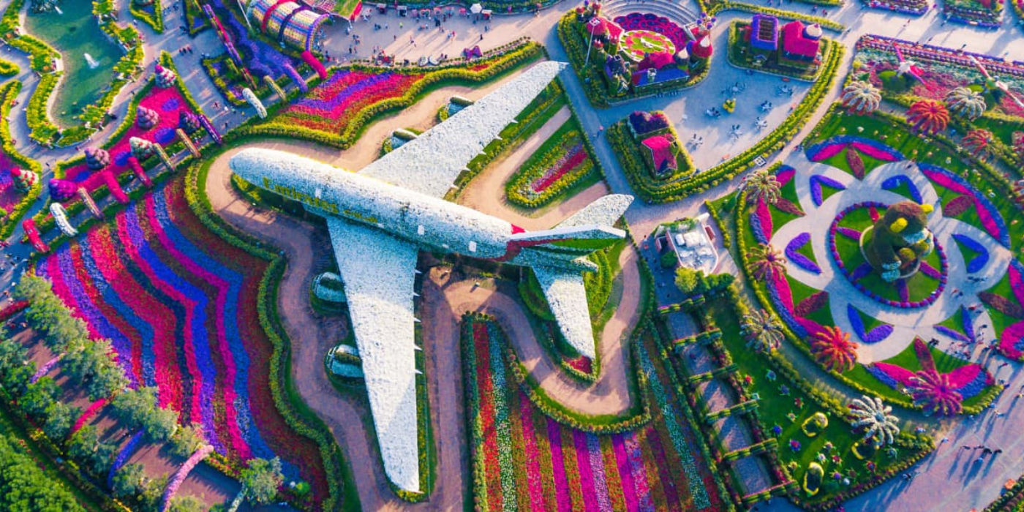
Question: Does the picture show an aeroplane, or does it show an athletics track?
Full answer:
I can see an aeroplane in this picture.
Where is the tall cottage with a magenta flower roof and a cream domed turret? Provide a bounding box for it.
[775,20,827,75]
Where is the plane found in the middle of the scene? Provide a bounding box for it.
[231,60,634,494]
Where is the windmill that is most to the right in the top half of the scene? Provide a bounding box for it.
[952,54,1024,108]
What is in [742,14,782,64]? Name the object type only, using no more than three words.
house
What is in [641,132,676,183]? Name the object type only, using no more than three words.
house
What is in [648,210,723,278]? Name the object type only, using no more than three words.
building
